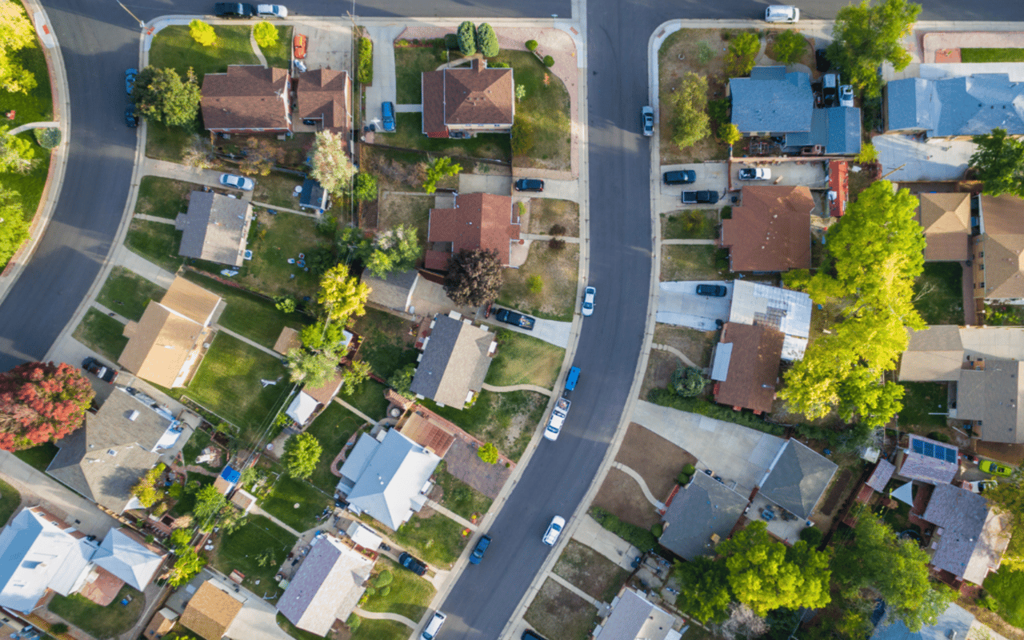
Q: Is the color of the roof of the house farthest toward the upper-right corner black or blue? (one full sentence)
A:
From above, the roof of the house farthest toward the upper-right corner appears blue.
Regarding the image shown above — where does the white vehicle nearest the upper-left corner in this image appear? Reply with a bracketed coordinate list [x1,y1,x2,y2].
[256,2,288,19]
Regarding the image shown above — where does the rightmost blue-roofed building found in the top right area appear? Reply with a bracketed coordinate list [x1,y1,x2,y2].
[880,70,1024,139]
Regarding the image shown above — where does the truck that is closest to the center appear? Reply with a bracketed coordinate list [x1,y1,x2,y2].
[494,307,536,331]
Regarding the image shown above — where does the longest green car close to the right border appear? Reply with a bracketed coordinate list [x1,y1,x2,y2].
[978,459,1013,475]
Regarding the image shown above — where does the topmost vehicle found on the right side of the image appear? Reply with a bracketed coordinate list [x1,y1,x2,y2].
[764,5,799,21]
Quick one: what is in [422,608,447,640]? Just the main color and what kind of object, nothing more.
white vehicle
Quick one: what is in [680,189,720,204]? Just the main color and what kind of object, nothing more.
black vehicle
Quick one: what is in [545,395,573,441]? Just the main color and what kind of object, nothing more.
white truck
